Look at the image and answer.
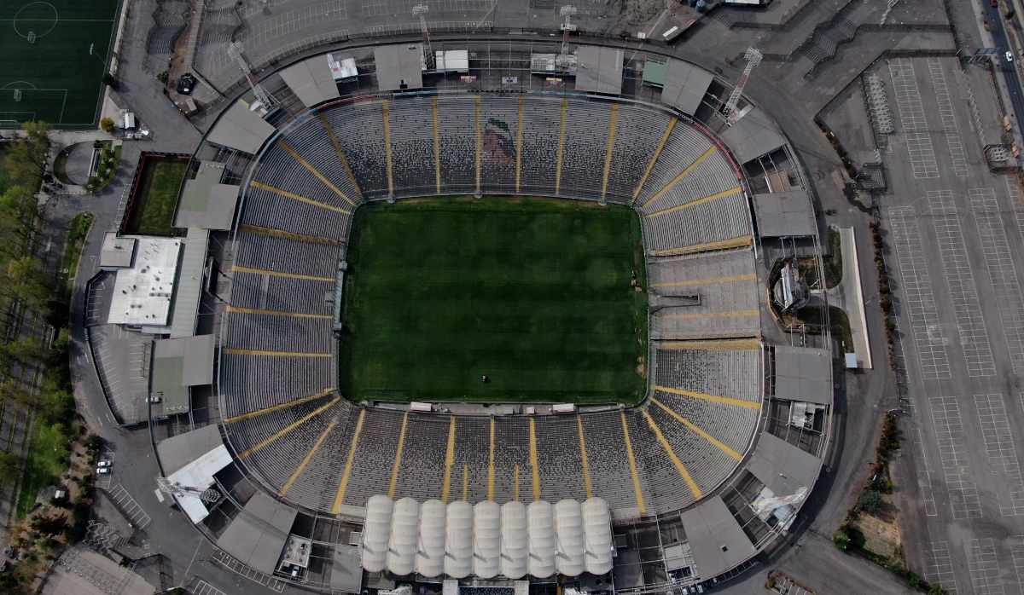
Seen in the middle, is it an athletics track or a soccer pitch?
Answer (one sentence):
The one visible in the middle is a soccer pitch.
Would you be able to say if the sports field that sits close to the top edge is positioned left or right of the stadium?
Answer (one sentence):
Relative to the stadium, the sports field that sits close to the top edge is on the left.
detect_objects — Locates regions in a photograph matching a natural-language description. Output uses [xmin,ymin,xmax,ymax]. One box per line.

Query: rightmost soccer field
[335,198,650,416]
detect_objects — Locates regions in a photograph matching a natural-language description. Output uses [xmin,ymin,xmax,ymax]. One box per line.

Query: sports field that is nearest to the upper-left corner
[0,0,124,128]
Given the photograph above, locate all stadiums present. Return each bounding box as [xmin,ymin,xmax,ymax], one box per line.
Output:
[148,38,834,595]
